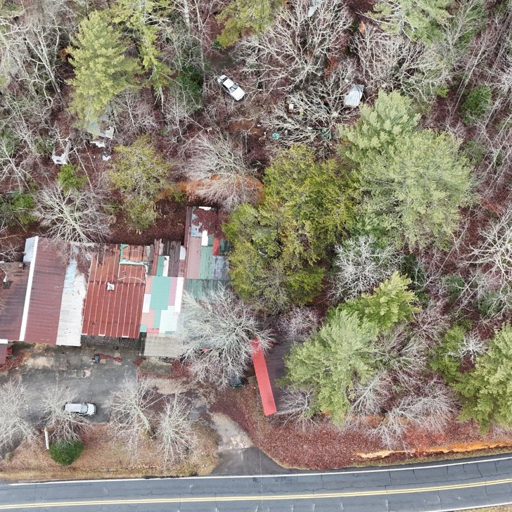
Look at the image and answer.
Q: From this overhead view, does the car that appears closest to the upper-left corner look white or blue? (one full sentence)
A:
The car that appears closest to the upper-left corner is white.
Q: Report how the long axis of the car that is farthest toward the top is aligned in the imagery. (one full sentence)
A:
In this picture, the car that is farthest toward the top is oriented at an angle.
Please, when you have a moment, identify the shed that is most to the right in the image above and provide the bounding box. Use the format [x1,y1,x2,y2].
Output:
[343,85,364,111]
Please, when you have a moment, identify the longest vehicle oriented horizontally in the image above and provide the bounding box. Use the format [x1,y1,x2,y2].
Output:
[64,402,97,418]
